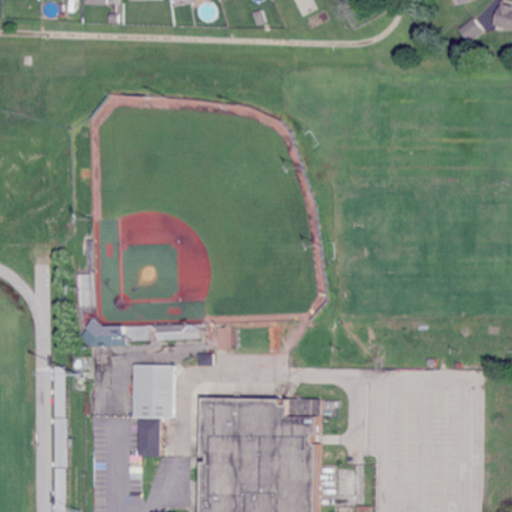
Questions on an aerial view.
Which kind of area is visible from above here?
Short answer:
sports ground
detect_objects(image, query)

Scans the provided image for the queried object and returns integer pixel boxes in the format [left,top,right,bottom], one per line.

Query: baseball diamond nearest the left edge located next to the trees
[91,96,326,328]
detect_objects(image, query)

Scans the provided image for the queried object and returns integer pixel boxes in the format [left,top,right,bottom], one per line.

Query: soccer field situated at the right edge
[338,76,512,315]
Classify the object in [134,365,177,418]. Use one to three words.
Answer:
building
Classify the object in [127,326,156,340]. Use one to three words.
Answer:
building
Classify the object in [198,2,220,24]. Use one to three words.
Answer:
swimming pool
